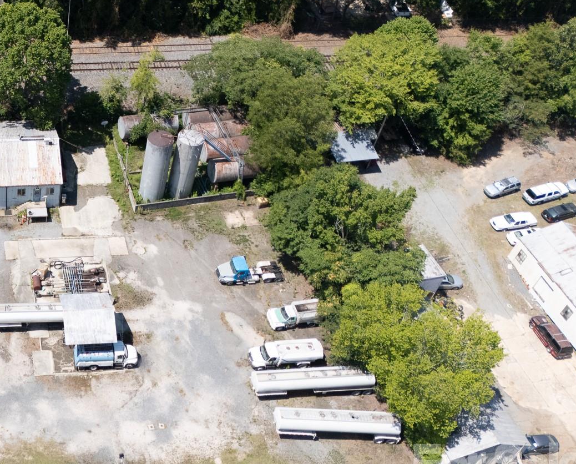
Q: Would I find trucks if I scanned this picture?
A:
Yes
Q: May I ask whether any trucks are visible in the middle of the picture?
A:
Yes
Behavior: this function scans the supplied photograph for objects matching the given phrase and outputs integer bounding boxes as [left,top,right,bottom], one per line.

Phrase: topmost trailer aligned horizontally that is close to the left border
[0,302,63,332]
